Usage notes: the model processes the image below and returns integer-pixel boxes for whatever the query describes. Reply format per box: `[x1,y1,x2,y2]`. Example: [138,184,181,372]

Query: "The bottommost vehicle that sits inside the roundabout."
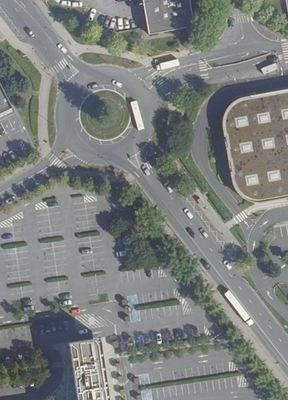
[131,100,144,132]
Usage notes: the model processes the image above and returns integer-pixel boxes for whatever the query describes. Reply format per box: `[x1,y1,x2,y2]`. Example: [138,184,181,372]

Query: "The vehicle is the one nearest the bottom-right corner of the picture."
[224,290,254,326]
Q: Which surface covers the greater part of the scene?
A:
paved ground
